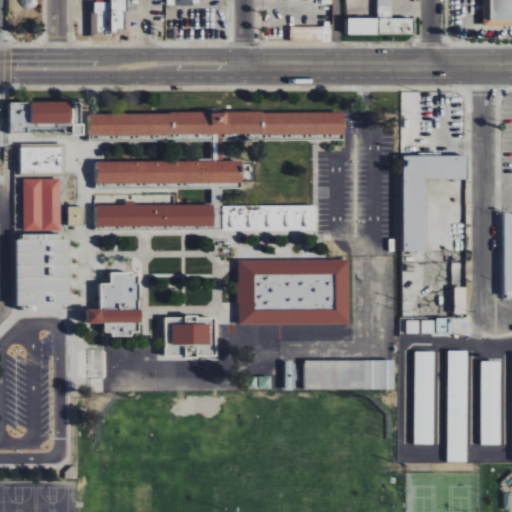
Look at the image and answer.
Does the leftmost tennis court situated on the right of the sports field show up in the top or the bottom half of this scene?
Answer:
bottom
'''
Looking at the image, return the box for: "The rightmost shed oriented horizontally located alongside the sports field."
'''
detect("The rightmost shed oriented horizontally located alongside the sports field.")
[302,360,392,388]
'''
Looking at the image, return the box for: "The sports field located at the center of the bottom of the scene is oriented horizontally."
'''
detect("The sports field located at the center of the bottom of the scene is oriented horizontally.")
[76,392,406,512]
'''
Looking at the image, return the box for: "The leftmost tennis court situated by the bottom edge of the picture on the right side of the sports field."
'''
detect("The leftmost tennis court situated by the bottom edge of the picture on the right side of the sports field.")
[406,472,442,512]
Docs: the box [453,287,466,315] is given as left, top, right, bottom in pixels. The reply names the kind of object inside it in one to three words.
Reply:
shed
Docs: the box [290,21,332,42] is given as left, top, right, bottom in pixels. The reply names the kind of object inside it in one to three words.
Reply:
building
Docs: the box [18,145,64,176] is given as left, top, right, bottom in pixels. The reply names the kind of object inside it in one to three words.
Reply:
building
